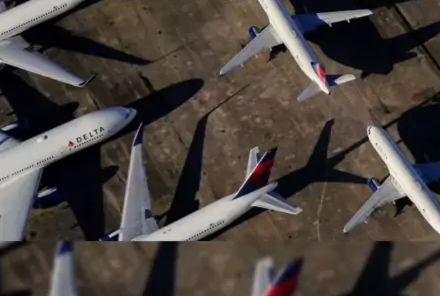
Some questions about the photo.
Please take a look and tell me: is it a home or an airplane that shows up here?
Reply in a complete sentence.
The image shows an airplane.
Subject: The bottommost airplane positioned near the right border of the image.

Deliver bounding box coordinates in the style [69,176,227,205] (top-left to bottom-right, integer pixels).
[345,127,440,256]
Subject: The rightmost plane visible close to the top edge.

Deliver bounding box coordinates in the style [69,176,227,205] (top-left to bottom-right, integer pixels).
[221,0,372,100]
